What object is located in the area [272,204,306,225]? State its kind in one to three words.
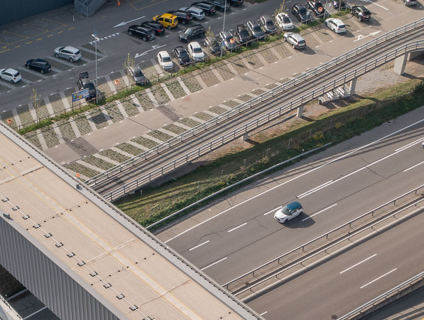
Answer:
car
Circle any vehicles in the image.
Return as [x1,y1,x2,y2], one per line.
[53,46,83,63]
[346,5,375,21]
[189,1,218,15]
[178,24,207,42]
[166,8,194,23]
[157,50,173,69]
[259,14,277,33]
[218,29,236,48]
[174,46,190,63]
[246,19,265,38]
[226,0,245,7]
[307,0,324,16]
[139,21,167,34]
[151,13,179,30]
[187,41,204,60]
[180,6,206,21]
[24,61,52,76]
[321,19,351,34]
[272,204,306,225]
[281,33,309,50]
[125,64,146,86]
[292,2,311,21]
[402,0,418,8]
[235,23,252,42]
[203,34,221,55]
[77,70,96,97]
[127,25,156,41]
[275,11,293,30]
[329,0,347,9]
